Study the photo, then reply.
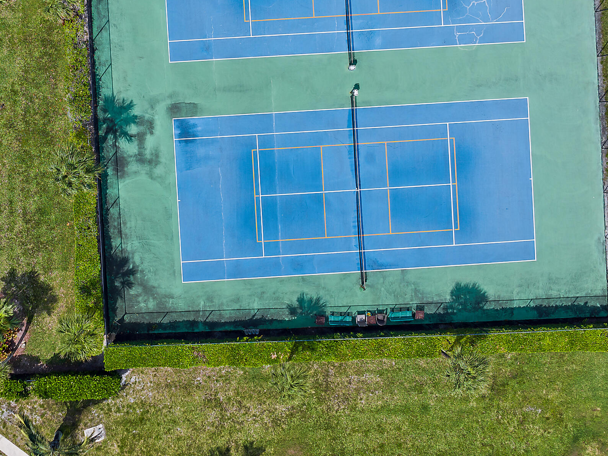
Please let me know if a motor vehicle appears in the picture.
No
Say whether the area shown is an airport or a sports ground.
sports ground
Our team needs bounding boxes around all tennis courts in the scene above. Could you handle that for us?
[172,96,537,283]
[166,0,526,63]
